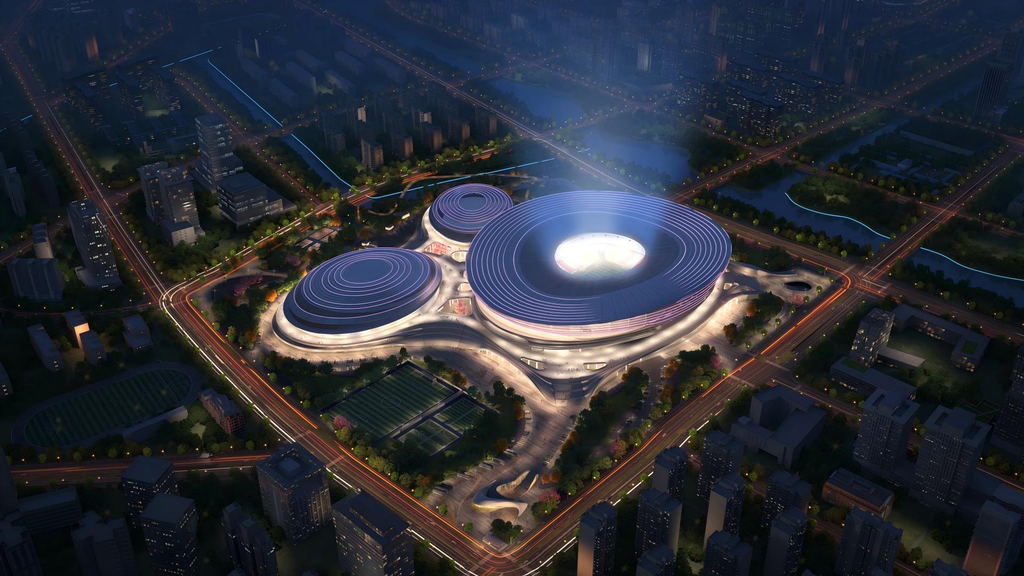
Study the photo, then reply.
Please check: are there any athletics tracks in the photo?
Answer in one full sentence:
Yes, there's an athletics track down there.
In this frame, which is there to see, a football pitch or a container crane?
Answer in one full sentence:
It is a football pitch that can be seen here.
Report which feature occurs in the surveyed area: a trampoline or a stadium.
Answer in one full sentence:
Of the two, only a stadium appears.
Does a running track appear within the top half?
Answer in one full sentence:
No, there is no running track within the top half.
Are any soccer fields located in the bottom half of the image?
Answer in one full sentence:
Yes, a soccer field shows up in the bottom half of the image.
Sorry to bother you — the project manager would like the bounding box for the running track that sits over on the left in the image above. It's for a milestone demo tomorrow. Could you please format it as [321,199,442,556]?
[6,361,201,454]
